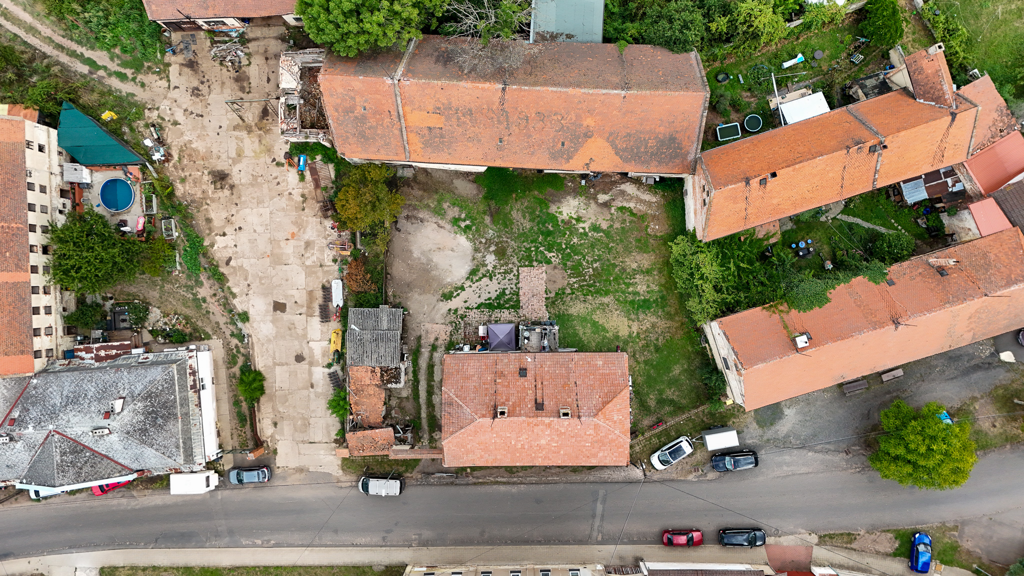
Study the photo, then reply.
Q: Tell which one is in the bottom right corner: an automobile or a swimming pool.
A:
automobile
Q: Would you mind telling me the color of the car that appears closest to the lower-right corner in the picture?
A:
blue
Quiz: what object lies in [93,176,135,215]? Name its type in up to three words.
swimming pool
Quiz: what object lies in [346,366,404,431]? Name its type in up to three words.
shed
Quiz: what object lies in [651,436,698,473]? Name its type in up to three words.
car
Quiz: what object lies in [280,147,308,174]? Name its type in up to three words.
work vehicle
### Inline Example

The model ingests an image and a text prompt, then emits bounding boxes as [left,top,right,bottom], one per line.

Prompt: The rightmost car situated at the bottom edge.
[911,532,937,576]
